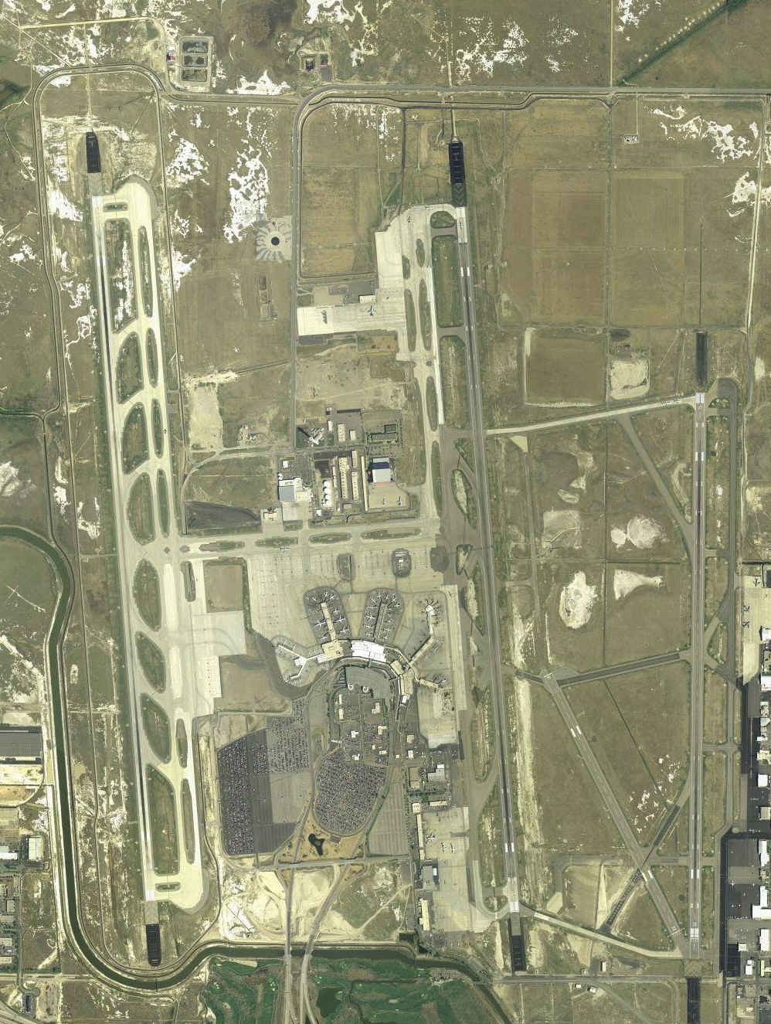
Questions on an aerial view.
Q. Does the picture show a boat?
No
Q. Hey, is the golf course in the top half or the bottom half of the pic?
bottom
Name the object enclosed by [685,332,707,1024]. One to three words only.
runway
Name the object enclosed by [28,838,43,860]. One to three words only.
building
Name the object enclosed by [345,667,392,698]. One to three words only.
building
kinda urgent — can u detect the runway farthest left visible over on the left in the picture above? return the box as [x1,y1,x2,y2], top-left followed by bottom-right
[86,131,160,966]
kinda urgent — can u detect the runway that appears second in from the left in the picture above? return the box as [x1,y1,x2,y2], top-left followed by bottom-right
[449,143,525,971]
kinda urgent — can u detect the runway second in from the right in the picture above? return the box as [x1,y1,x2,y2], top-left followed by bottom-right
[544,674,689,956]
